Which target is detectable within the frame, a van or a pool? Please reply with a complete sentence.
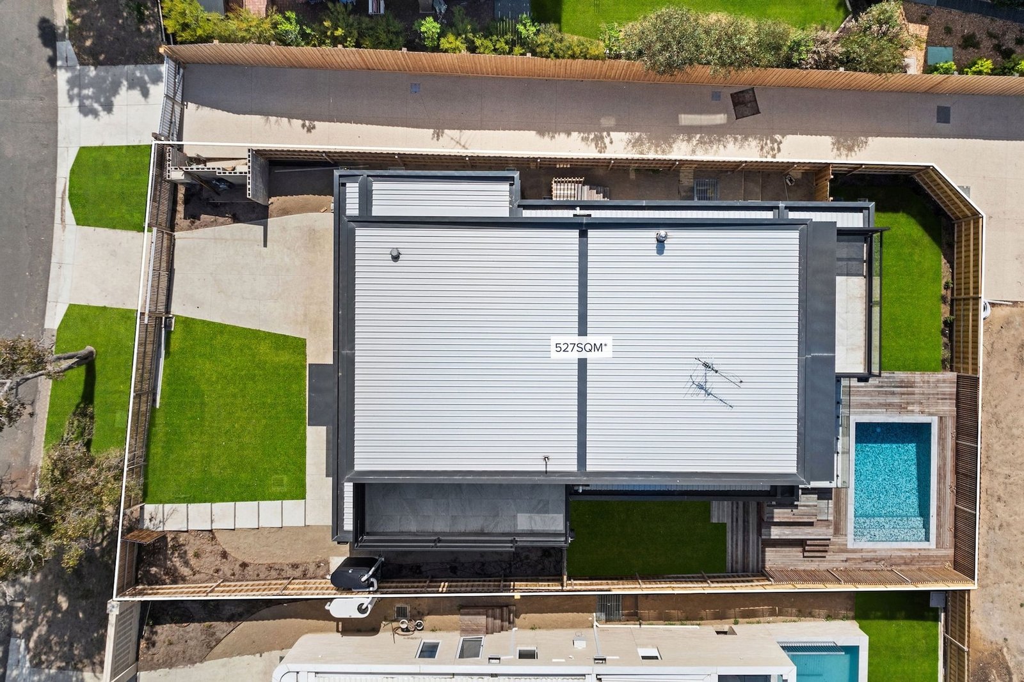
Of the two, only a pool appears.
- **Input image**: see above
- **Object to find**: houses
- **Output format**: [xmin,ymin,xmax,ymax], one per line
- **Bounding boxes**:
[309,171,890,556]
[277,614,796,682]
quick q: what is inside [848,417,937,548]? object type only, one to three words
swimming pool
